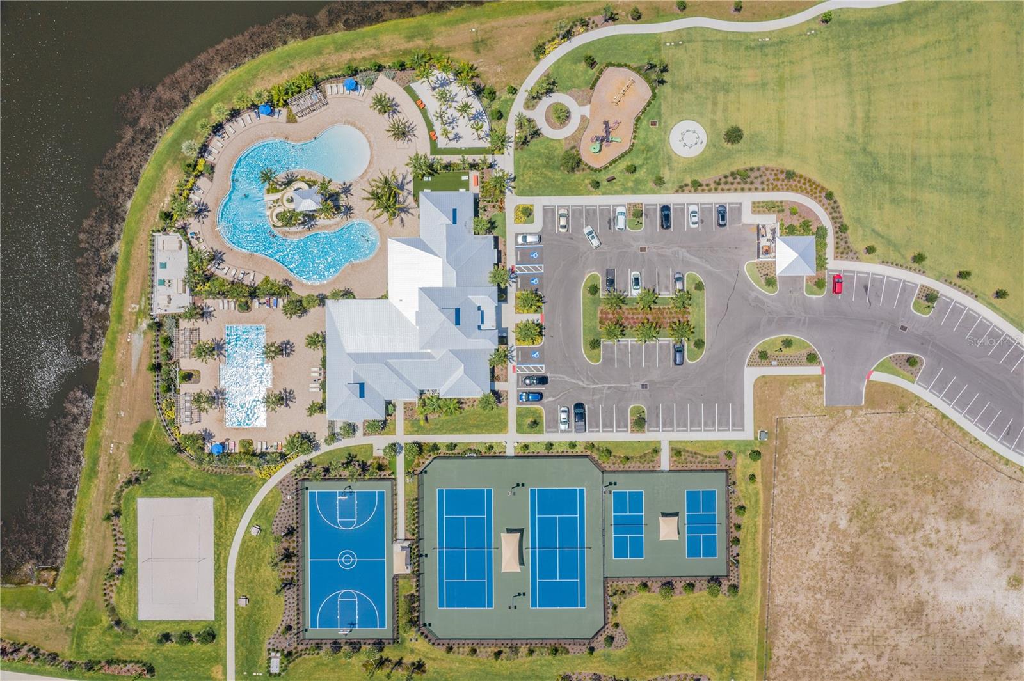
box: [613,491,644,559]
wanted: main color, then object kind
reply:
blue sports court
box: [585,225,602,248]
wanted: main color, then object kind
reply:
white car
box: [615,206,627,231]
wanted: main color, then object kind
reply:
white vehicle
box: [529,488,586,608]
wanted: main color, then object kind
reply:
blue tennis court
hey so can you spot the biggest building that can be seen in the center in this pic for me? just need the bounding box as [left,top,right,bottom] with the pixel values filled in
[326,192,498,420]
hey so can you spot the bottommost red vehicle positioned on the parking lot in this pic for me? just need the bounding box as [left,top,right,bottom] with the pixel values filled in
[832,273,844,294]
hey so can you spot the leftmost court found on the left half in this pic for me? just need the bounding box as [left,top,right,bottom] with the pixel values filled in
[137,498,214,621]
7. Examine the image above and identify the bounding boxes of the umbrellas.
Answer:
[259,103,271,115]
[343,77,356,90]
[211,442,224,455]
